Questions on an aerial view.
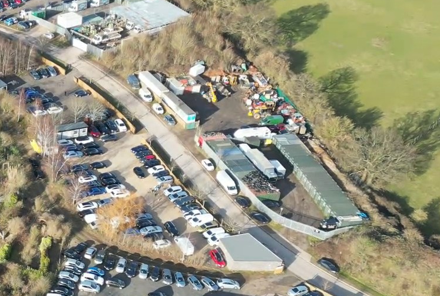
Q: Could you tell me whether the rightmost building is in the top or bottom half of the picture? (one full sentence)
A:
You can find the rightmost building in the bottom half.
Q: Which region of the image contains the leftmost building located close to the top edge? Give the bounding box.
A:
[57,11,82,30]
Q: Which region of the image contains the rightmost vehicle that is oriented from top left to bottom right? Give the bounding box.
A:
[316,256,343,276]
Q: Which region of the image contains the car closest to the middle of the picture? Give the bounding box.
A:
[201,159,214,172]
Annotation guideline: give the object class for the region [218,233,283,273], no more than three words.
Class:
building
